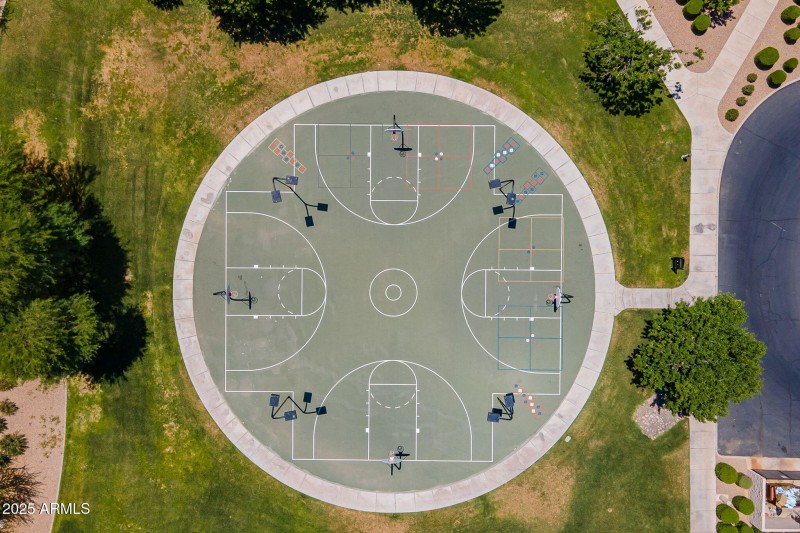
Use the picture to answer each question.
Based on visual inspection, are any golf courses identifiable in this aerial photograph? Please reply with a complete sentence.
No, the picture doesn't show any golf course.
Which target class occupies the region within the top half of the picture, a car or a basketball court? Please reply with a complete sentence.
There is a basketball court within the top half of the picture.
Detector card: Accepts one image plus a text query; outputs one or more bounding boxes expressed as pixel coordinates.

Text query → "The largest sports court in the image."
[194,91,594,492]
